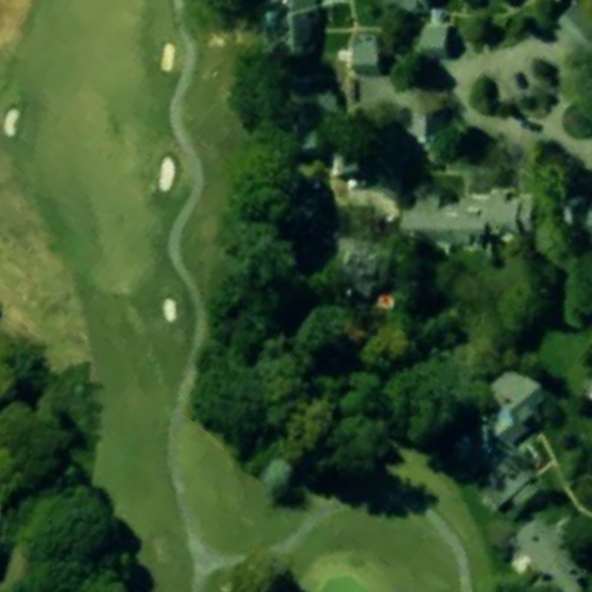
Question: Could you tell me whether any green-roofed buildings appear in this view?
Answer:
Yes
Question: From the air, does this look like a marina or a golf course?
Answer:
golf course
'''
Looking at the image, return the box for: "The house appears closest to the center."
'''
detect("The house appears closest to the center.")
[332,232,394,291]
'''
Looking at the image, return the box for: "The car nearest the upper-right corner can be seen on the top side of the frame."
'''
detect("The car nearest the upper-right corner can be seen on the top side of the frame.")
[515,72,527,89]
